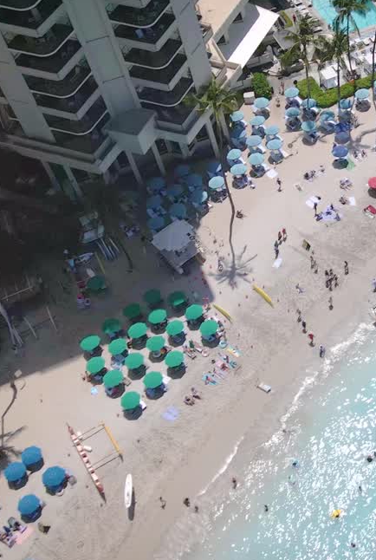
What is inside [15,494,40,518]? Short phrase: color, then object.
blue umbrella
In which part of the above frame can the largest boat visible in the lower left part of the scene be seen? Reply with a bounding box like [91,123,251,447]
[66,419,121,498]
